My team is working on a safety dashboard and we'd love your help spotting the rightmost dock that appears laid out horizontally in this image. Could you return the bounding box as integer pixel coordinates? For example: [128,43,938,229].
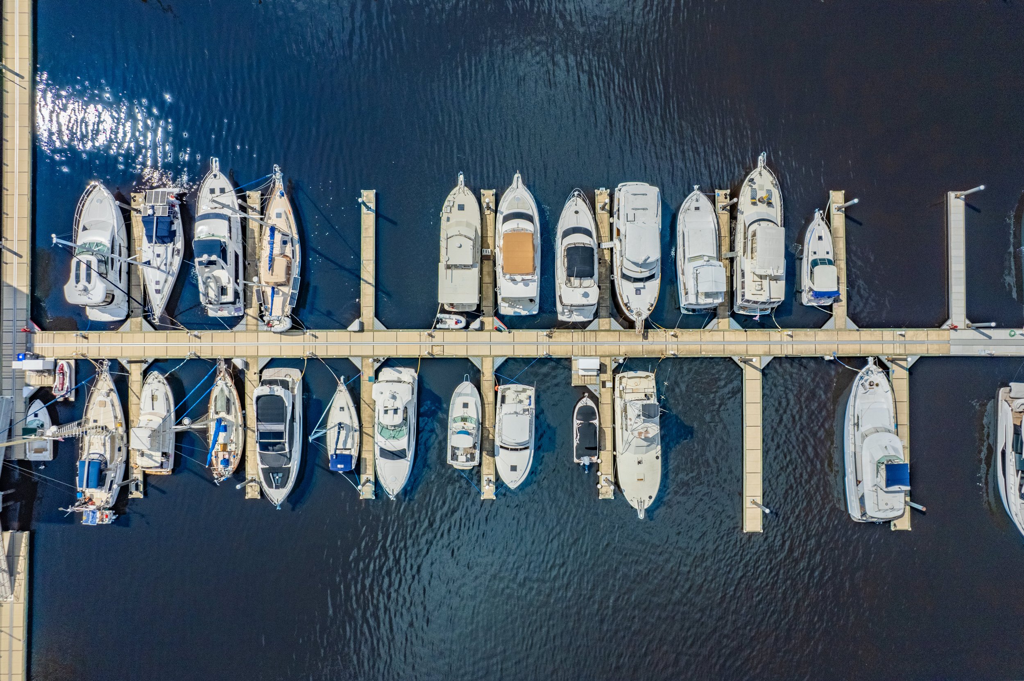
[950,328,1024,356]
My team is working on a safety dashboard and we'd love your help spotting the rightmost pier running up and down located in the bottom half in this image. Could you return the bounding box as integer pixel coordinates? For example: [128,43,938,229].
[877,356,922,531]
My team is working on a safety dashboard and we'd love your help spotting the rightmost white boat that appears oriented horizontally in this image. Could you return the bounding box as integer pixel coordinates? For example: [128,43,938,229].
[433,314,466,329]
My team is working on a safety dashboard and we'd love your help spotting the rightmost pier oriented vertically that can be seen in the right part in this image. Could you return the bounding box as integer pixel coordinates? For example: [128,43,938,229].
[937,191,975,328]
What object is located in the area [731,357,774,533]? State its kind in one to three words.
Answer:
pier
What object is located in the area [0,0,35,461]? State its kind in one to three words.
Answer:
pier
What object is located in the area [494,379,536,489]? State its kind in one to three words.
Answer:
boat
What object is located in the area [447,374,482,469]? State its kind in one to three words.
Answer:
boat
